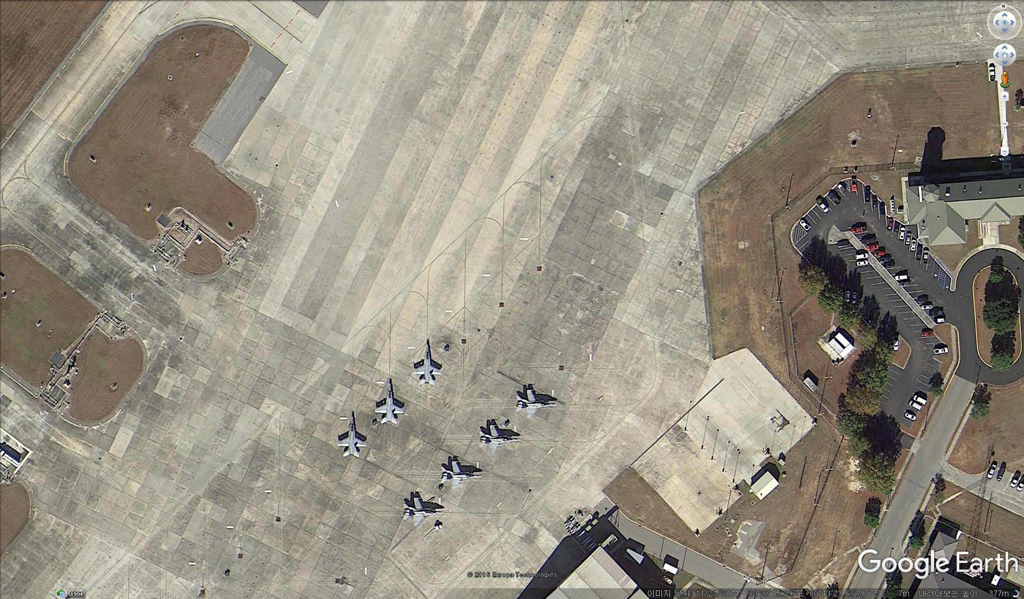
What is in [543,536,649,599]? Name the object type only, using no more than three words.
hangar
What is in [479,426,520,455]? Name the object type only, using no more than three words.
airplane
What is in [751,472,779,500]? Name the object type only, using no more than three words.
building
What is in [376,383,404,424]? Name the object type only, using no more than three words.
airplane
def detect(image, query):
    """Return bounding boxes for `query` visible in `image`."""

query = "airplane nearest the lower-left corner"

[338,417,366,457]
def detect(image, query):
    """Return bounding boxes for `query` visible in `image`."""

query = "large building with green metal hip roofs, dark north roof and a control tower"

[904,155,1024,245]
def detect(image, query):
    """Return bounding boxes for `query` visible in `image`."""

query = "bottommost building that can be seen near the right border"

[918,532,1001,599]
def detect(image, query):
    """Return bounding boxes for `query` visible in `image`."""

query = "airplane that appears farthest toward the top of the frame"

[413,344,441,384]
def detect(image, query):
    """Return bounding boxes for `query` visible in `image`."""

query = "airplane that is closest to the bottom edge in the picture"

[404,499,443,527]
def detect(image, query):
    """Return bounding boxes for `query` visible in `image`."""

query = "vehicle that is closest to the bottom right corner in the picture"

[990,573,1002,588]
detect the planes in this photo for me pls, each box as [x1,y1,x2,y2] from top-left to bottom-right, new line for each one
[404,499,443,527]
[376,383,404,424]
[441,463,481,491]
[338,417,366,457]
[413,344,441,384]
[479,426,520,455]
[516,391,557,419]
